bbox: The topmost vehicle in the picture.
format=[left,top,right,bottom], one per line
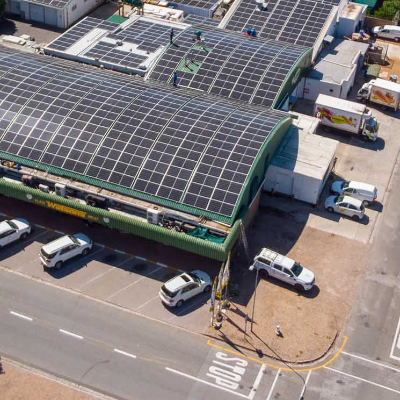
[369,20,400,40]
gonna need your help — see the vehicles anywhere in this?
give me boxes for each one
[330,175,381,203]
[355,75,400,110]
[0,218,34,249]
[251,246,320,290]
[36,231,97,268]
[156,265,215,305]
[323,193,369,219]
[369,20,400,40]
[311,98,381,145]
